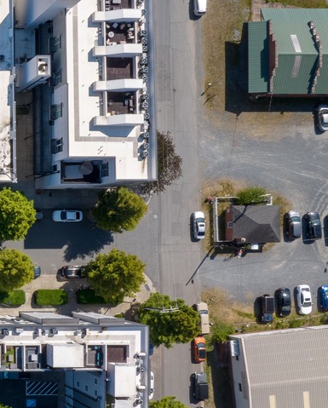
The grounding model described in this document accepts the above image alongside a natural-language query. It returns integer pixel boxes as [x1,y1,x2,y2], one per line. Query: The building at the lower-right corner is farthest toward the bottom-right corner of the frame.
[233,324,328,408]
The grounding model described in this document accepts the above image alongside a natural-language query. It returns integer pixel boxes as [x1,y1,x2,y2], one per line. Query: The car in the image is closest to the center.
[191,211,207,241]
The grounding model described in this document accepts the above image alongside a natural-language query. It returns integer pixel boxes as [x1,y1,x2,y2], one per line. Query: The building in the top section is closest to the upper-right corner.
[236,9,328,98]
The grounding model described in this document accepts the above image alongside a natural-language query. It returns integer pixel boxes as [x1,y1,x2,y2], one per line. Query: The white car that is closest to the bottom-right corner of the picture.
[295,284,312,313]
